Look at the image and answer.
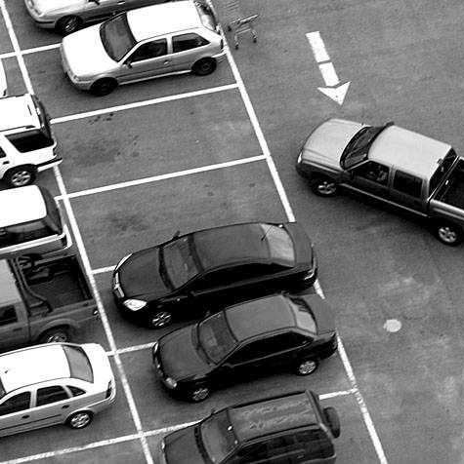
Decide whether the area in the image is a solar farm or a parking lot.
parking lot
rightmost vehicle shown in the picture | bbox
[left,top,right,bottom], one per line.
[296,119,464,246]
